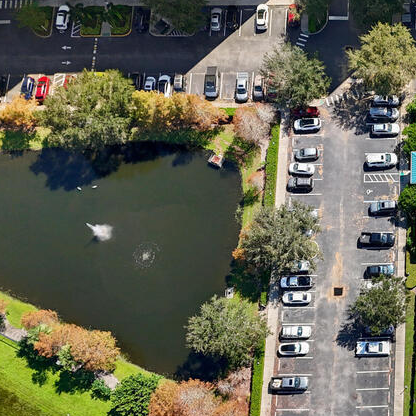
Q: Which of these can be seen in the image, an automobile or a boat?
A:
automobile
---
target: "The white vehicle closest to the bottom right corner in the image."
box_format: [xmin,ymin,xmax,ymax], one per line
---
[355,341,391,356]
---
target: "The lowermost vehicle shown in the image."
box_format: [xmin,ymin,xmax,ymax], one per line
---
[271,375,308,390]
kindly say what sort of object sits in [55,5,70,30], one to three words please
car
